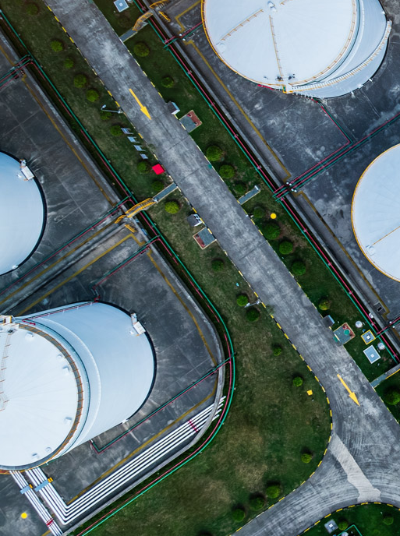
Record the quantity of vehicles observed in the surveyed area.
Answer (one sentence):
The picture shows no vehicles.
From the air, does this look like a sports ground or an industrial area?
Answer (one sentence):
The picture captures an industrial area.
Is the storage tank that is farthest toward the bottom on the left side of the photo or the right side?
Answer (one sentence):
It is on the left.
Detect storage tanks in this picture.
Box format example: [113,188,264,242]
[349,142,400,285]
[0,150,46,277]
[202,0,391,99]
[0,301,154,482]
